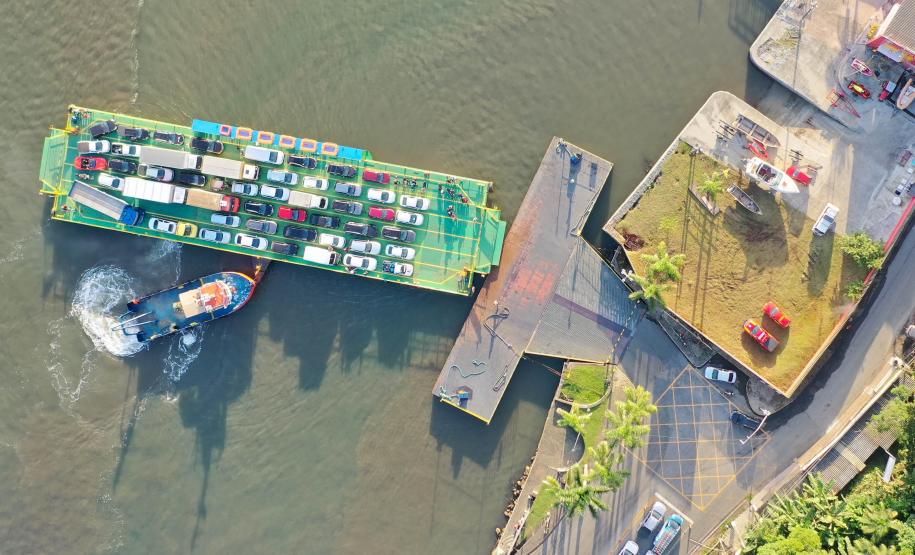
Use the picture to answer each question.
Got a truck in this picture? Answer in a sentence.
Yes, the frame does contain a truck.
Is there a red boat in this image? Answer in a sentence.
Yes, there is a red boat in the image.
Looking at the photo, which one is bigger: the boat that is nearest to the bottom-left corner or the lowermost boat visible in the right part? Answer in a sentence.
The boat that is nearest to the bottom-left corner is bigger than the lowermost boat visible in the right part.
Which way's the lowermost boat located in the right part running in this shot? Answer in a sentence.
In this picture, the lowermost boat located in the right part is oriented diagonally.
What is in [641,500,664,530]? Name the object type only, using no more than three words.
car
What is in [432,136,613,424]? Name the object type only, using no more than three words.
pier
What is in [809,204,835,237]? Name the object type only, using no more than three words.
truck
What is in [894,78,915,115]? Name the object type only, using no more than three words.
boat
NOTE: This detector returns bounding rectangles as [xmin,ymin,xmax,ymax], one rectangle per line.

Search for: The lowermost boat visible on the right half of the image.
[726,184,762,214]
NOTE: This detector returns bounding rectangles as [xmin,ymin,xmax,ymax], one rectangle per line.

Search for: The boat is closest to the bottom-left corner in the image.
[112,272,261,341]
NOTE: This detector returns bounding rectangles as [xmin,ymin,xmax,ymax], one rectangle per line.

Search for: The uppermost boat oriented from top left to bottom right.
[848,58,869,75]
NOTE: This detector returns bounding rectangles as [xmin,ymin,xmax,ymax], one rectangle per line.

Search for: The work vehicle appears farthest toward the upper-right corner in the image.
[873,73,899,97]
